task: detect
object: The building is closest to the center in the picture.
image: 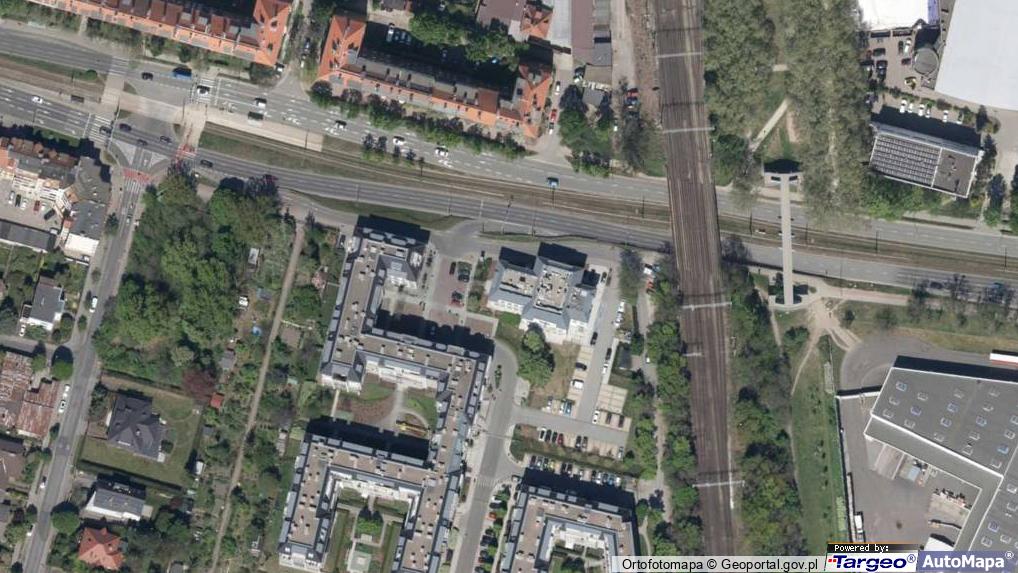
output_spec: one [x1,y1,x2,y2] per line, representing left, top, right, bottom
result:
[489,258,597,333]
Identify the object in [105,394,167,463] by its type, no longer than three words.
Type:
house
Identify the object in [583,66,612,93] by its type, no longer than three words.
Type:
shed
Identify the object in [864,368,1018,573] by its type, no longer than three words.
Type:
building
